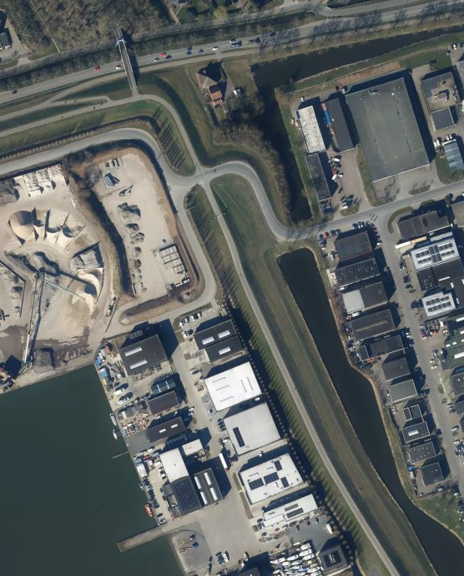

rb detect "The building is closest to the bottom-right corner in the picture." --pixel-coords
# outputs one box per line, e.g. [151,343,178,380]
[421,462,444,487]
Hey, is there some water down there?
Yes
